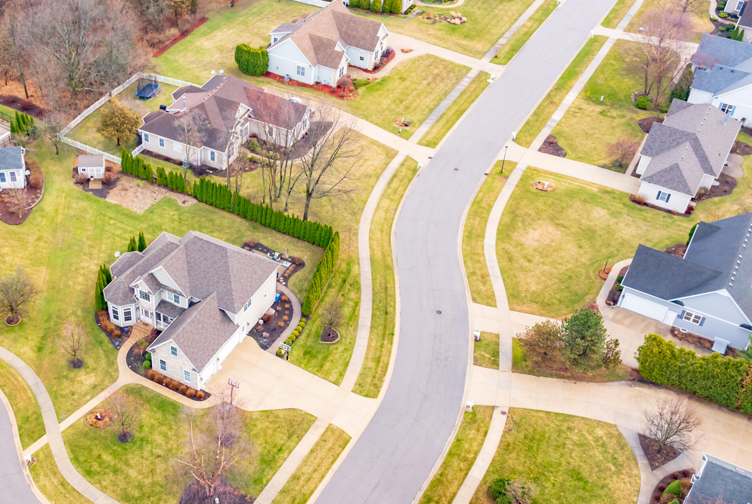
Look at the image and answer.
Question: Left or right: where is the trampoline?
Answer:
left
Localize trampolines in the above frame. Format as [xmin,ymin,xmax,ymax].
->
[134,81,161,101]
